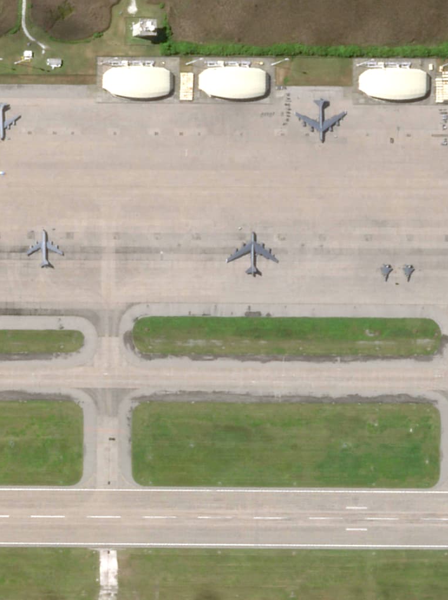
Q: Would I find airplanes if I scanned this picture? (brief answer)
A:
Yes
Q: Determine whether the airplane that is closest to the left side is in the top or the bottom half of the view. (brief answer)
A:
top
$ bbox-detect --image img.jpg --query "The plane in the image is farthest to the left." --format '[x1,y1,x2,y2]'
[0,103,21,140]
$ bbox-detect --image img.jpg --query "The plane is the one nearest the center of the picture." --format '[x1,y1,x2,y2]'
[227,230,278,274]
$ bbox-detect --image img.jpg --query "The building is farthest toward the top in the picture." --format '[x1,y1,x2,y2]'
[131,19,158,37]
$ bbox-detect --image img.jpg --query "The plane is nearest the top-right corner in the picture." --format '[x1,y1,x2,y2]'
[297,99,349,143]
